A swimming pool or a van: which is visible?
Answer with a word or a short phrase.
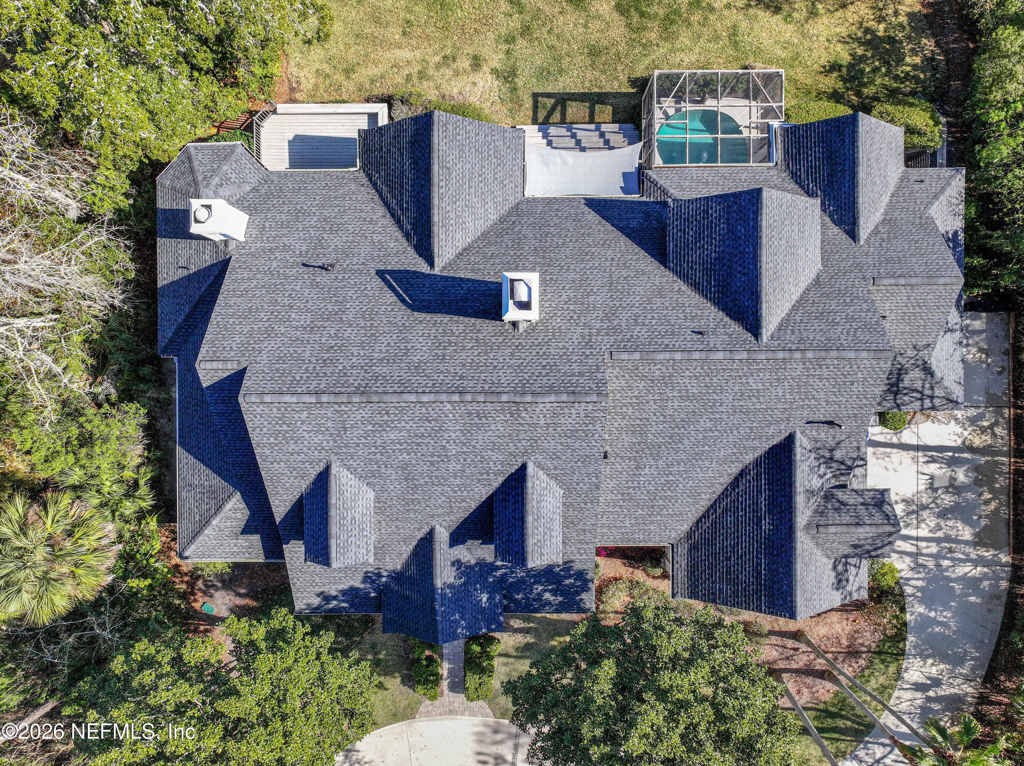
swimming pool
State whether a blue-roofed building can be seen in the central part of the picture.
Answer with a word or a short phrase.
No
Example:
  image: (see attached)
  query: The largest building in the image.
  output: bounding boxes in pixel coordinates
[154,111,967,645]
